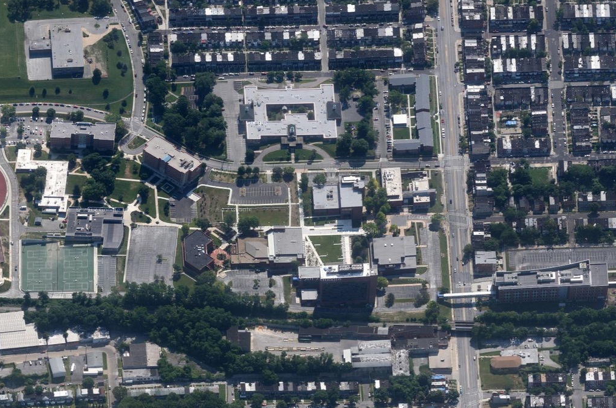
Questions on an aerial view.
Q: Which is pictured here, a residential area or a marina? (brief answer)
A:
residential area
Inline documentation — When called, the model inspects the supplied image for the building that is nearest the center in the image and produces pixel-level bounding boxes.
[313,185,340,215]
